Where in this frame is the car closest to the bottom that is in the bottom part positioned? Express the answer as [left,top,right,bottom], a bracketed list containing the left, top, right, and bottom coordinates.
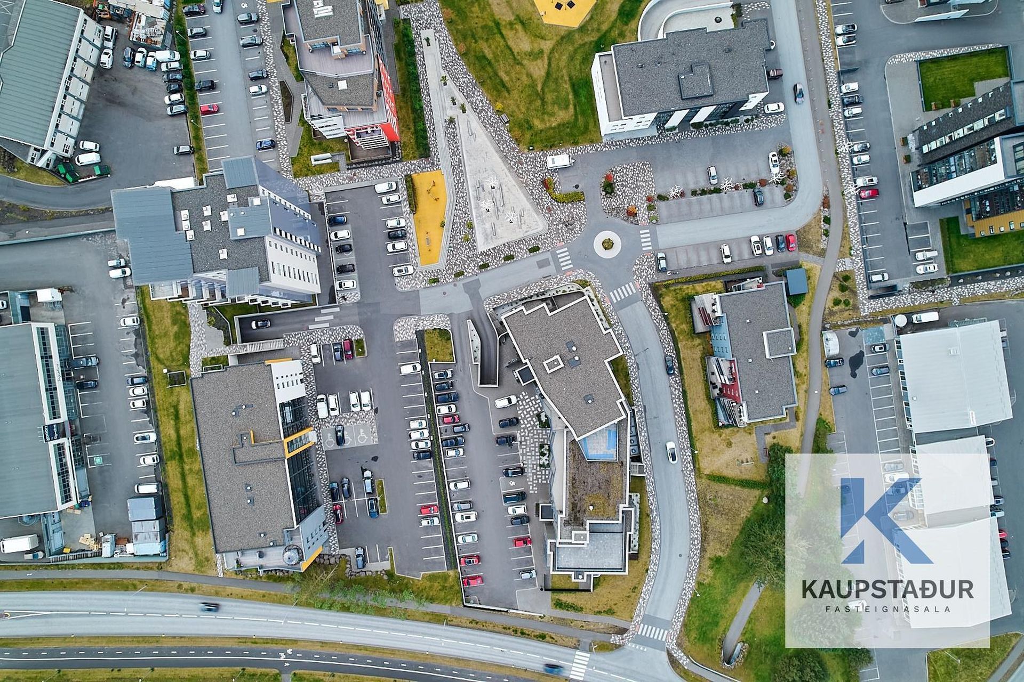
[544,663,563,675]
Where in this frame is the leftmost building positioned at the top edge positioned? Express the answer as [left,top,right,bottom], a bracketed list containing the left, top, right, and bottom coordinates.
[0,0,105,168]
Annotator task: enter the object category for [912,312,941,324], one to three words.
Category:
vehicle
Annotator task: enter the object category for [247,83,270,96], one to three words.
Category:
vehicle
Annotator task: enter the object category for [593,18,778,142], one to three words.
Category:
building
